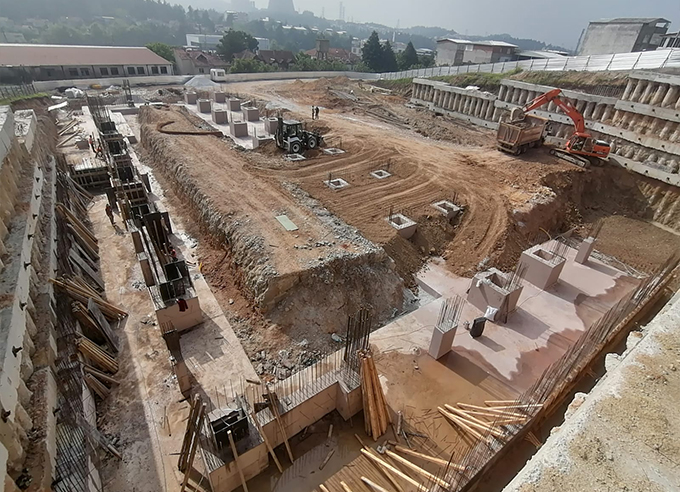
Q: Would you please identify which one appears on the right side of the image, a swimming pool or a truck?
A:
truck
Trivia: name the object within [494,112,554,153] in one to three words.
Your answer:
truck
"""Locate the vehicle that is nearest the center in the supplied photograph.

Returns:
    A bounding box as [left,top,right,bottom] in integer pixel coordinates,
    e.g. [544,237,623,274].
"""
[272,118,329,152]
